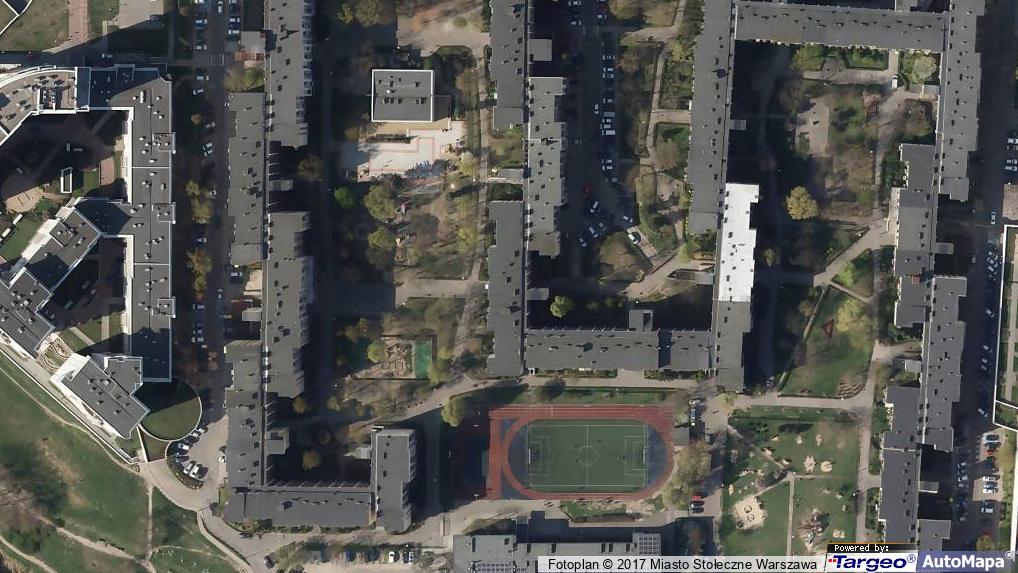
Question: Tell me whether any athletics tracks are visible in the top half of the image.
No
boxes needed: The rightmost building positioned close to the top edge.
[941,0,988,202]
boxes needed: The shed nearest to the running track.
[673,427,689,447]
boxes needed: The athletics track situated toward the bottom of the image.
[489,405,673,500]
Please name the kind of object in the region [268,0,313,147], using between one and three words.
building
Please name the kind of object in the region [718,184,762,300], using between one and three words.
building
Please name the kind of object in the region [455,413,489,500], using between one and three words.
basketball court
